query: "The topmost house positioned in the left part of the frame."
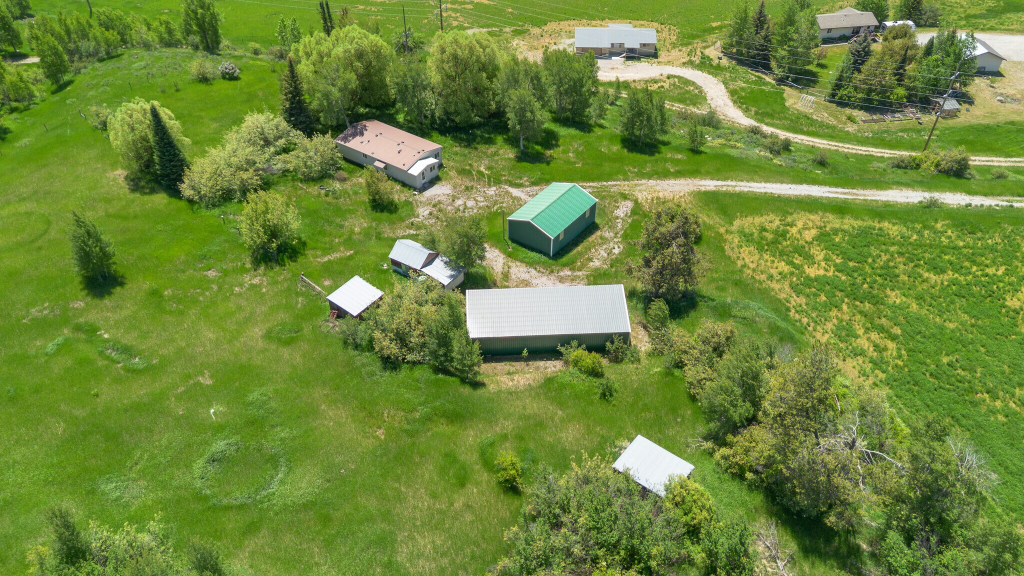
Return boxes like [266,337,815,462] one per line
[335,121,444,189]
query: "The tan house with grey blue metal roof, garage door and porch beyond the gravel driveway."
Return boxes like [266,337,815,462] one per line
[572,14,658,62]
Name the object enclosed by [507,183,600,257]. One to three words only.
shed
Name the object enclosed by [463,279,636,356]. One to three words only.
barn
